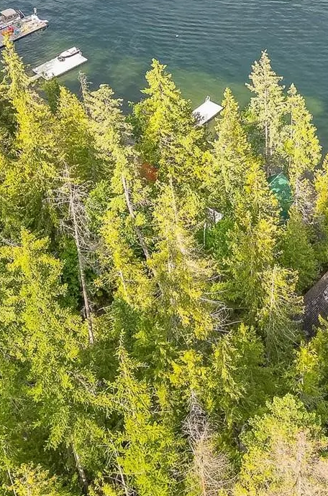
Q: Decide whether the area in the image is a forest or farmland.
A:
forest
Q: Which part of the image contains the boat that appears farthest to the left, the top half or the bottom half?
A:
top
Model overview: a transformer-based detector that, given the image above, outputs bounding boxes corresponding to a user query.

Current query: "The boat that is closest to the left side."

[0,3,34,29]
